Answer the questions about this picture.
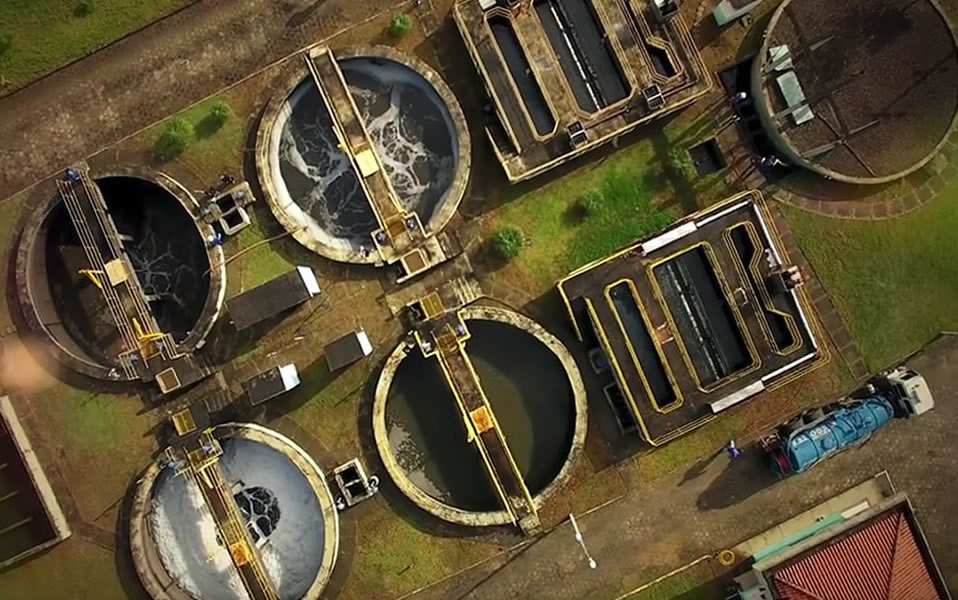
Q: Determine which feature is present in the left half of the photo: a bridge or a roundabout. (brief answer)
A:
bridge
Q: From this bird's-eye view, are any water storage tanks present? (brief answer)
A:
Yes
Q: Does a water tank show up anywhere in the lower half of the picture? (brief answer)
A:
Yes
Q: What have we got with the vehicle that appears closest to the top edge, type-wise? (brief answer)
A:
truck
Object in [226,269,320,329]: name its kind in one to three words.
shed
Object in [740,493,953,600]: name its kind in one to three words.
house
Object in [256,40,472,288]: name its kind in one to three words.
water tank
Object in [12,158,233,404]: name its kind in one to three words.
water tank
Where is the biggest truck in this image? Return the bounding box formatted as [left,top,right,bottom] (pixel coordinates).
[736,363,938,479]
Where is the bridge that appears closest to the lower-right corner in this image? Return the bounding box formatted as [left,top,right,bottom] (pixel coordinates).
[433,344,541,532]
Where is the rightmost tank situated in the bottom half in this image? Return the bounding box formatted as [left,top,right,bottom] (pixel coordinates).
[372,276,588,532]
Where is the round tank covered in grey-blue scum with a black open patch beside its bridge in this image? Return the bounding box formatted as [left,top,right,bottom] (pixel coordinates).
[129,385,343,600]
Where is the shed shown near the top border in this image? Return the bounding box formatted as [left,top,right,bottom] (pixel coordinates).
[704,0,777,38]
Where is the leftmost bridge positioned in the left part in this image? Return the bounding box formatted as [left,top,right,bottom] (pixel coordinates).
[50,158,164,346]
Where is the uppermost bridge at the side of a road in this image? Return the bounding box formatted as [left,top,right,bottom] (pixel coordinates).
[302,40,408,228]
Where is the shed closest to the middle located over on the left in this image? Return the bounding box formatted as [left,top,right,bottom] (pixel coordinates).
[324,330,370,372]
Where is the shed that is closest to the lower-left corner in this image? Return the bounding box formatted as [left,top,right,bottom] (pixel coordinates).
[247,364,298,406]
